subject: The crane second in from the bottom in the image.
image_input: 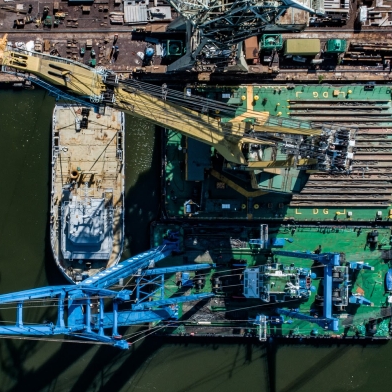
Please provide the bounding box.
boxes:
[0,41,392,226]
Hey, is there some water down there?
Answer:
Yes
